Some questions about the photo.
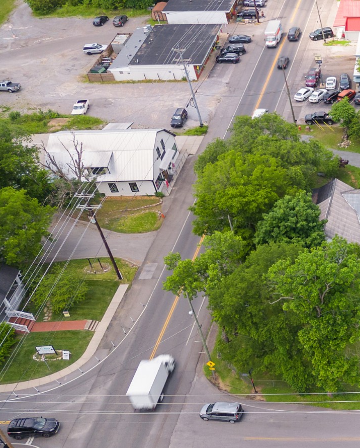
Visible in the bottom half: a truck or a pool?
truck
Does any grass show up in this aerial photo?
Yes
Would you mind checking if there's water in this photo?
No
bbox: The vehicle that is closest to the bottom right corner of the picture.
[198,400,247,425]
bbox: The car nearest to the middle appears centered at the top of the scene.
[172,110,187,126]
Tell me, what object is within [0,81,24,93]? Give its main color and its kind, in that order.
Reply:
gray vehicle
